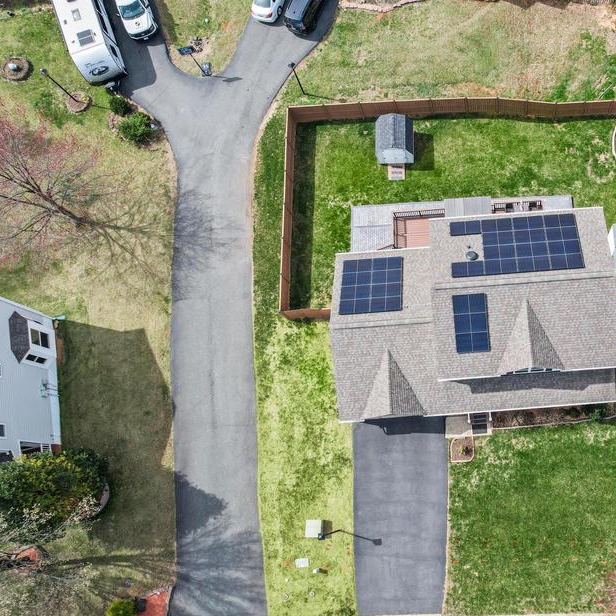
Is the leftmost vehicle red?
No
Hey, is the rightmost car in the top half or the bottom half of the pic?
top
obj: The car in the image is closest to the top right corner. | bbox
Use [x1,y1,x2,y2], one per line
[285,0,331,34]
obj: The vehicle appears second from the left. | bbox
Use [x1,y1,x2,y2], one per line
[116,0,161,43]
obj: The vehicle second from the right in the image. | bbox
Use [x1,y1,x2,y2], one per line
[252,0,290,25]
